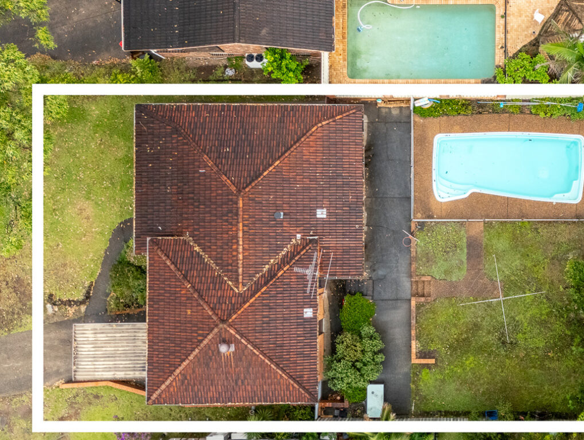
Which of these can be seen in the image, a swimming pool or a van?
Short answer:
swimming pool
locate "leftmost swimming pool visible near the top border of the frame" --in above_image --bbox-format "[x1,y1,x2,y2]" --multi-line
[342,0,501,84]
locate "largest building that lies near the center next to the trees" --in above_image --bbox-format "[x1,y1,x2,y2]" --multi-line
[131,100,367,408]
